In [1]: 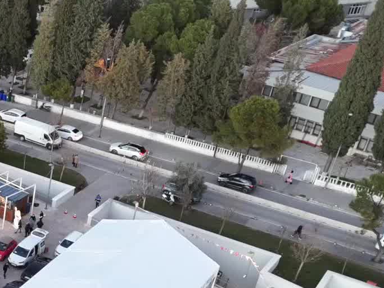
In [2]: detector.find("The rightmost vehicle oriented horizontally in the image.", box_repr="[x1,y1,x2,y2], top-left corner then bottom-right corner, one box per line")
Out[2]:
[216,170,260,191]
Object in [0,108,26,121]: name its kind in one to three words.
vehicle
